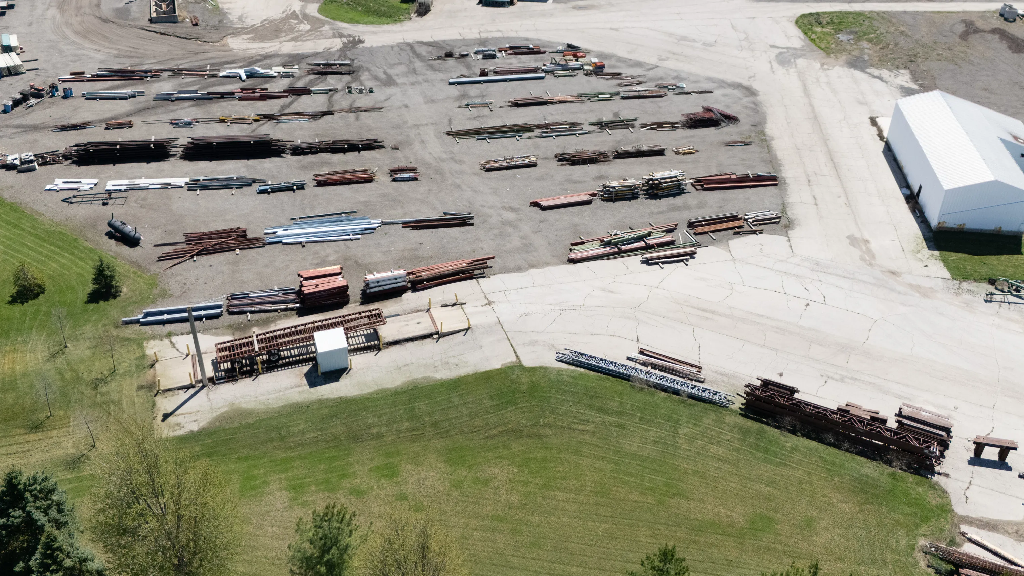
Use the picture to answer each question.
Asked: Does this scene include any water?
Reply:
No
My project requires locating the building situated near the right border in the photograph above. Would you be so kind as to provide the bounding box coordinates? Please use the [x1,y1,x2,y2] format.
[886,88,1024,234]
